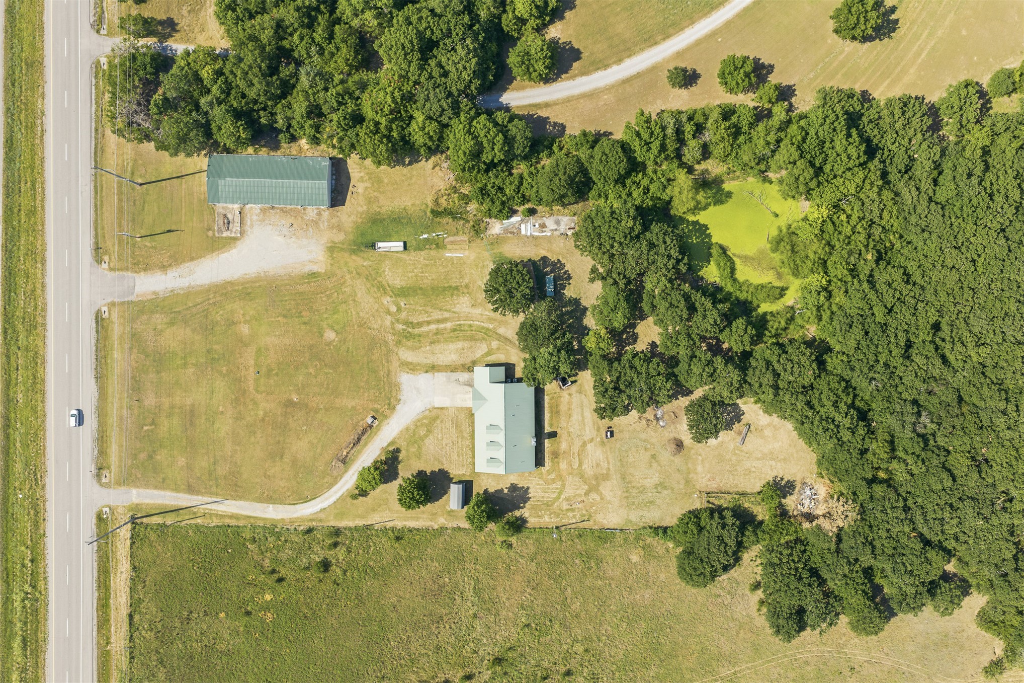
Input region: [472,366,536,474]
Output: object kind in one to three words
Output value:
house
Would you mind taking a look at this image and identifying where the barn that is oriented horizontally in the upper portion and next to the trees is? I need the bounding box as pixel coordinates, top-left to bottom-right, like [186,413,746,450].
[206,153,331,208]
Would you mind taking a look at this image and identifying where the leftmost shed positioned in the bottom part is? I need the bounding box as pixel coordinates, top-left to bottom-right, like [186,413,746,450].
[451,482,465,510]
